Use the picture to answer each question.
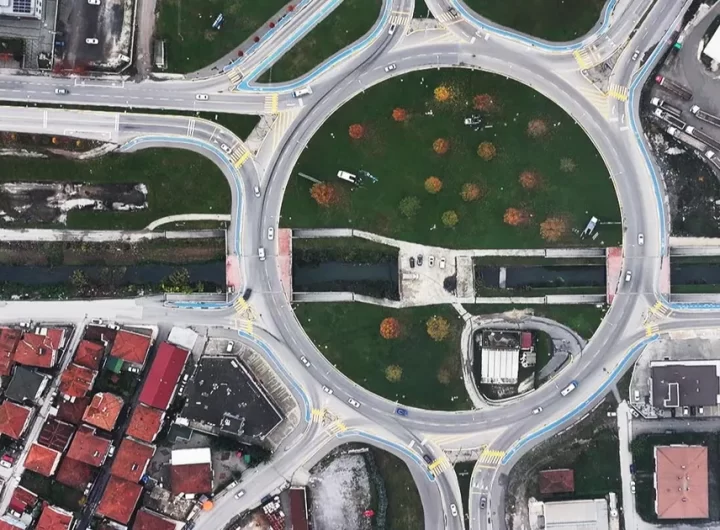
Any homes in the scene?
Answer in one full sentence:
Yes, there's a home down there.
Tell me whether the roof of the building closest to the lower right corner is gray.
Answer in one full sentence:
No, the roof of the building closest to the lower right corner is pink.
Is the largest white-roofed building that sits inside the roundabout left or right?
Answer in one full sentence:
It is on the right.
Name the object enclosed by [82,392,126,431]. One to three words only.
house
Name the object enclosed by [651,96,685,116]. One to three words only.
vehicle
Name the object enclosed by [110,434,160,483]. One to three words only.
house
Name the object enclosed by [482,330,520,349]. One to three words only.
building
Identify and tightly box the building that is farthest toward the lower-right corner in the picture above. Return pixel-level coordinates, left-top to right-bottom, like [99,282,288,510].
[651,444,708,519]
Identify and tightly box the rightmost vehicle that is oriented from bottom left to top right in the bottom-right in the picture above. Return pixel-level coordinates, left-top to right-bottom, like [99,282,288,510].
[560,382,579,396]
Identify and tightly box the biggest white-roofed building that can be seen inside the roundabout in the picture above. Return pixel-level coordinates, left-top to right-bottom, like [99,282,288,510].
[480,349,518,387]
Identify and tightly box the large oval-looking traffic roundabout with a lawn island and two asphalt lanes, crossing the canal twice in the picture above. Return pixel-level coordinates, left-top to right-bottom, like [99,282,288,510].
[238,14,661,460]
